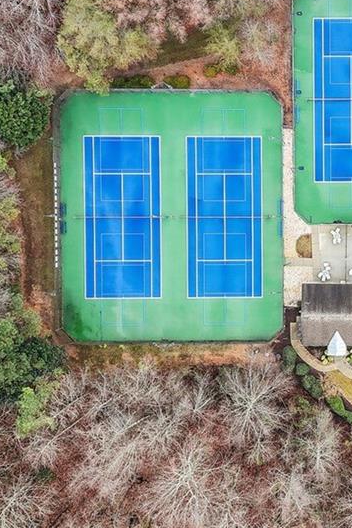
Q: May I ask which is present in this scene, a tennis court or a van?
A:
tennis court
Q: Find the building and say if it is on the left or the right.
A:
right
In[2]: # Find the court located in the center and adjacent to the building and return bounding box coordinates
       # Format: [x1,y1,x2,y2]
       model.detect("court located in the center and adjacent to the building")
[63,92,282,341]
